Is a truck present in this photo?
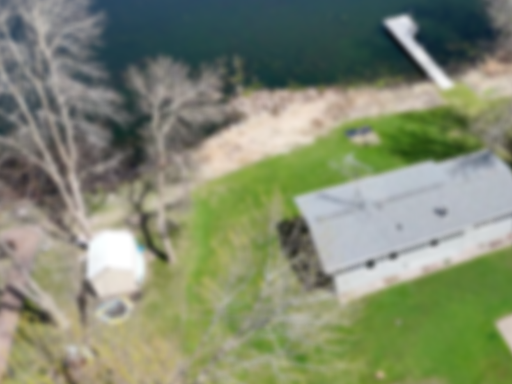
No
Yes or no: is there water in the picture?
Yes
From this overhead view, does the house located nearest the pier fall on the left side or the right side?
right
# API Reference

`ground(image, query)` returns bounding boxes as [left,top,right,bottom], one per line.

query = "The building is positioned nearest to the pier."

[292,145,512,302]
